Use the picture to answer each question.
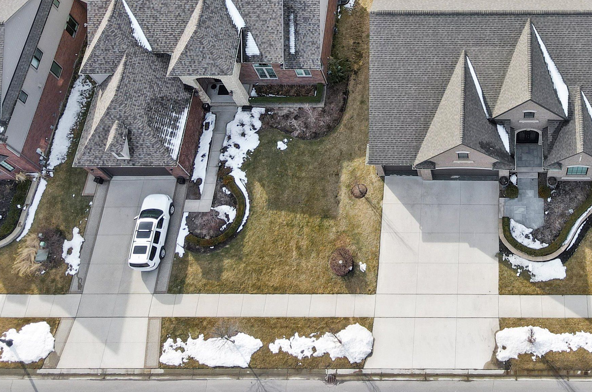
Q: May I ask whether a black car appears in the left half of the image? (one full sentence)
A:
No, no black car can be made out in the left half of the image.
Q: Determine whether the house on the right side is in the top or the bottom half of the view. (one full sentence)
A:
The top half of the photo is where the house on the right side is.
